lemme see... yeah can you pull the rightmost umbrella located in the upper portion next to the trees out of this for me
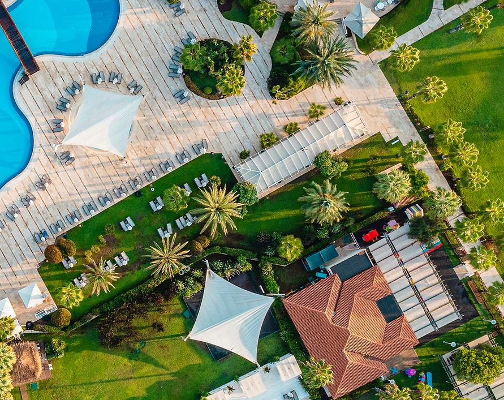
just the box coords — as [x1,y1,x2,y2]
[340,0,382,41]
